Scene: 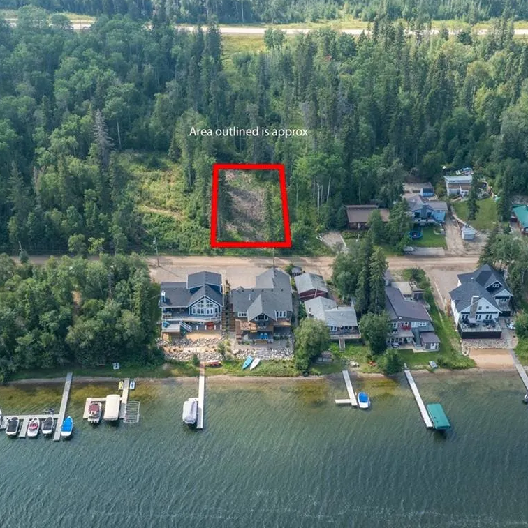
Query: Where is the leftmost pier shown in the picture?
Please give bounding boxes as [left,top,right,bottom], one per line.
[0,372,74,443]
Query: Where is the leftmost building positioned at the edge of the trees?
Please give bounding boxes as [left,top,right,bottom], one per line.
[160,267,225,348]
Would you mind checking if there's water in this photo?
Yes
